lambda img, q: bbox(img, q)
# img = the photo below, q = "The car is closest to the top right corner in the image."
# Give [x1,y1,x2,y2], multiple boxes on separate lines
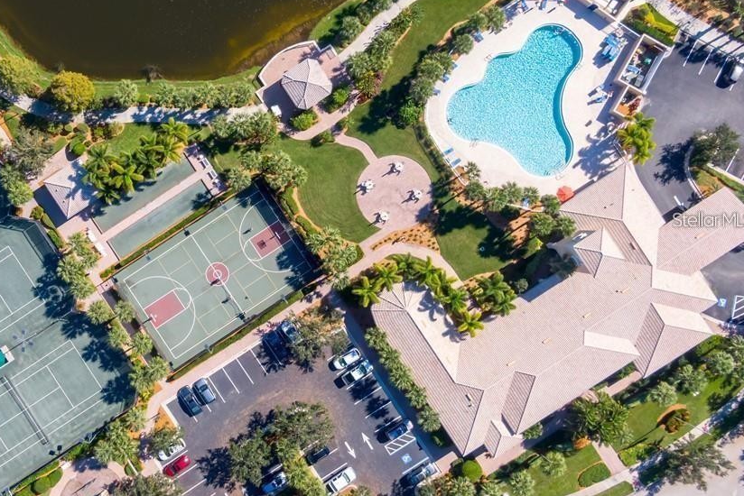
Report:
[724,56,744,86]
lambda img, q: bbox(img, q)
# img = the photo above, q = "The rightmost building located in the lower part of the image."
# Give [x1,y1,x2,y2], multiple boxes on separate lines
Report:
[370,164,744,458]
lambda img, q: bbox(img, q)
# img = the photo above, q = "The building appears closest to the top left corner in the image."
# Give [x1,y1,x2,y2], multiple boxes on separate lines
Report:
[43,158,100,221]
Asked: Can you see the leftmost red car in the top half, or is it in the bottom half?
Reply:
bottom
